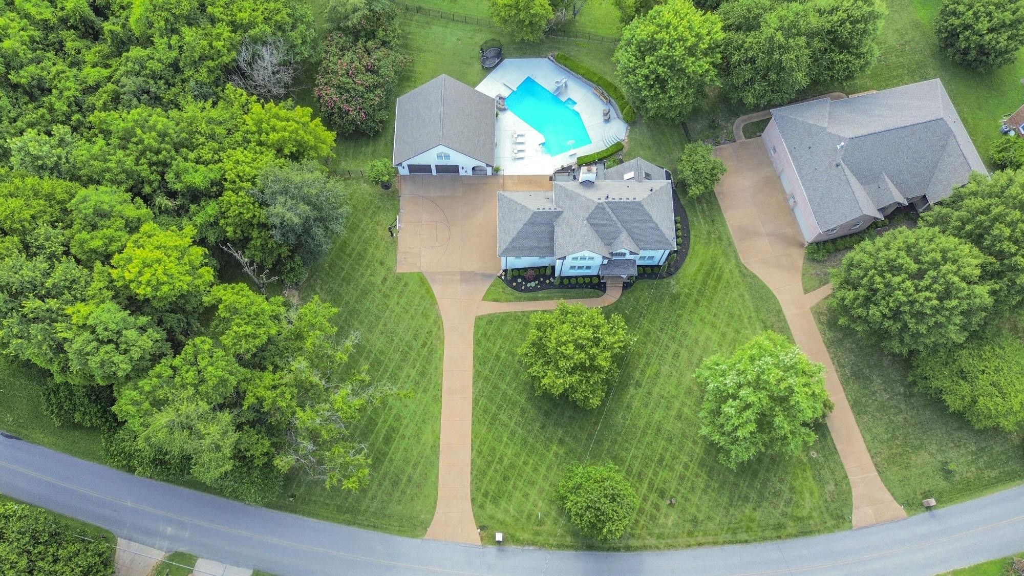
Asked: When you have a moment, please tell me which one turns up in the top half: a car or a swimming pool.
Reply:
swimming pool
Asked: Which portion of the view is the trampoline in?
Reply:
top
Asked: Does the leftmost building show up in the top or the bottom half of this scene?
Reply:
top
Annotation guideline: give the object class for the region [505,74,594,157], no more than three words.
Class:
swimming pool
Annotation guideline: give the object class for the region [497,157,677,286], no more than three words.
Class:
house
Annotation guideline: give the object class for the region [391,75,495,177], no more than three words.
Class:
building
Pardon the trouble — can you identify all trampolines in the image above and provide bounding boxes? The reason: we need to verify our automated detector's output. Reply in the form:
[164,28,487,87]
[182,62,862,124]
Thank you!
[481,40,503,70]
